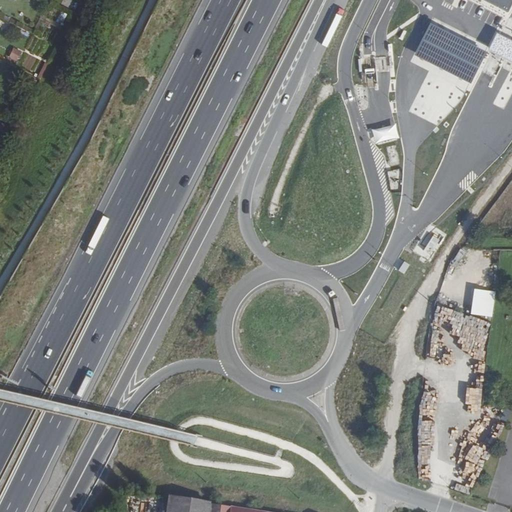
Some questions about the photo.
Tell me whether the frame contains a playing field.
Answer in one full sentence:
No, there is no playing field in the image.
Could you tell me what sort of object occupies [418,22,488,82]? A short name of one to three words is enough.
building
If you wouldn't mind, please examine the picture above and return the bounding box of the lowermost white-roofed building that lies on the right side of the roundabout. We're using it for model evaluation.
[472,289,496,318]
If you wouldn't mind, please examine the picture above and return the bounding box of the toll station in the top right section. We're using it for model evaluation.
[358,44,396,112]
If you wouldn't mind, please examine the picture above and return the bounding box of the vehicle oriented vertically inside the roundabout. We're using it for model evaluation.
[326,290,343,330]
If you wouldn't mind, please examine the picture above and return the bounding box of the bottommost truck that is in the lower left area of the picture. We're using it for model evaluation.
[70,371,94,408]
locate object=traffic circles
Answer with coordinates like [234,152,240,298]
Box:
[217,264,352,398]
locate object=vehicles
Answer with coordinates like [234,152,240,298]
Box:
[44,347,52,358]
[270,386,282,392]
[322,7,344,47]
[476,5,484,16]
[494,14,504,27]
[166,90,174,102]
[244,20,254,34]
[180,175,190,188]
[281,94,290,106]
[459,0,468,10]
[84,216,109,256]
[243,200,248,212]
[204,10,213,22]
[91,332,100,344]
[346,88,354,101]
[194,48,204,61]
[234,70,242,82]
[326,290,343,330]
[365,36,370,46]
[422,2,433,10]
[70,371,94,408]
